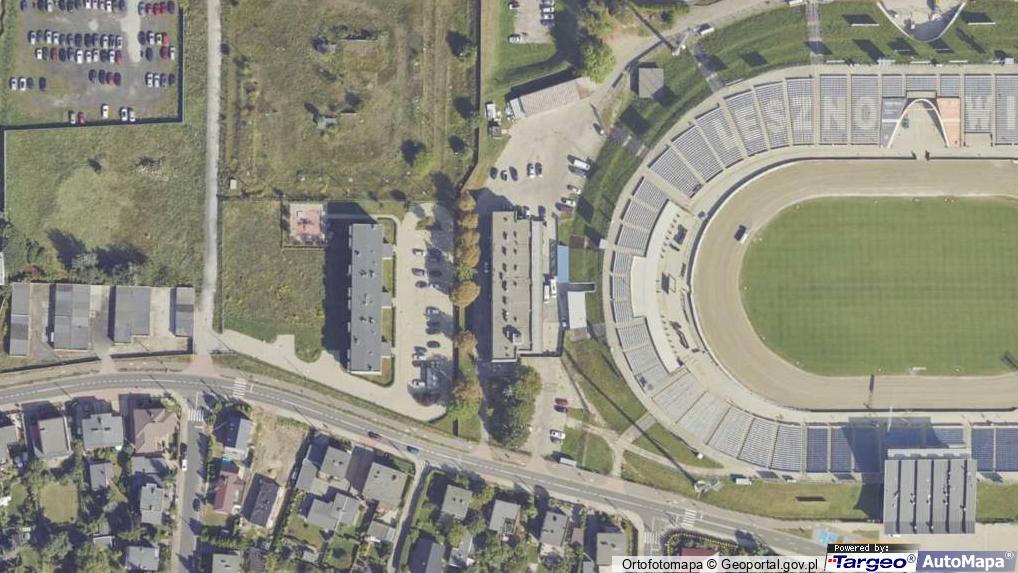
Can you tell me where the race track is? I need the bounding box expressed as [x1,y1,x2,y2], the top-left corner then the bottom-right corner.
[693,158,1018,412]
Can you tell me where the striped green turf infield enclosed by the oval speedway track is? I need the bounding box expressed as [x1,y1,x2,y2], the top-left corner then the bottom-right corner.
[740,196,1018,376]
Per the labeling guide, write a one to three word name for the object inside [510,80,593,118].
shed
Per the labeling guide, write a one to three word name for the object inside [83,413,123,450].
house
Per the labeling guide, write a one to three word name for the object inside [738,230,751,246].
vehicle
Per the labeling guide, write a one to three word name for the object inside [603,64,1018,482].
stadium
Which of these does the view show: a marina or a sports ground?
sports ground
